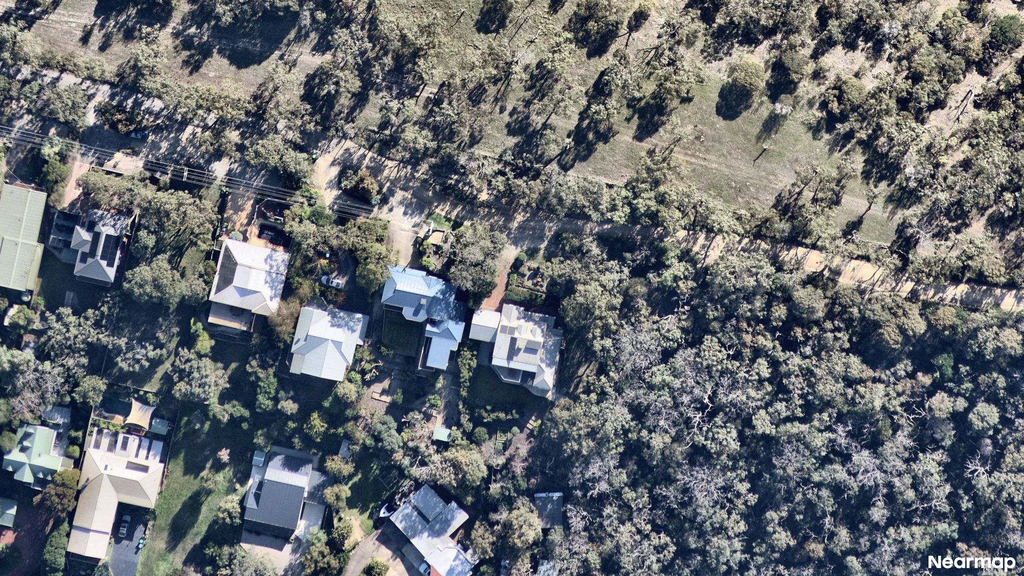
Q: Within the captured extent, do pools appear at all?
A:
Yes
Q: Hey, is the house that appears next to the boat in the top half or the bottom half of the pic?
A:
bottom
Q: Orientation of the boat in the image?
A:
on a diagonal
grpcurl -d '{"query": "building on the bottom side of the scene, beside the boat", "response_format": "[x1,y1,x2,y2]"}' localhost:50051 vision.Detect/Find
[390,486,474,576]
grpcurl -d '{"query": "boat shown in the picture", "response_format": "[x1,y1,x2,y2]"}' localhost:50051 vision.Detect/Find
[377,499,399,519]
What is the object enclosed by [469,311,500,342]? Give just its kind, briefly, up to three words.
building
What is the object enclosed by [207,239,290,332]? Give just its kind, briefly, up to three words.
house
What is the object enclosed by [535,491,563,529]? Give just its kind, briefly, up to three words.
shed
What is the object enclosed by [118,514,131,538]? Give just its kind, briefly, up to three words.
vehicle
